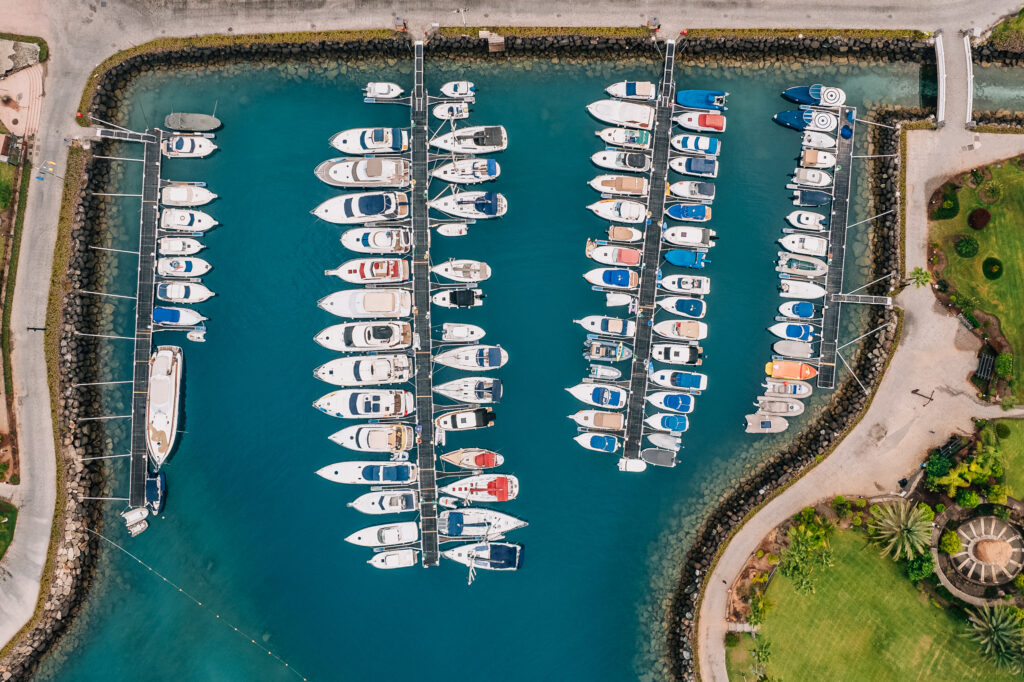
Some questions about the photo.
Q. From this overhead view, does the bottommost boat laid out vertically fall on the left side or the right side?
left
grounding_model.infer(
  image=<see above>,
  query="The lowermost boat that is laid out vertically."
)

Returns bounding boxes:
[144,471,165,516]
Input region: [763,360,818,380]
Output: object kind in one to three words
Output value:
boat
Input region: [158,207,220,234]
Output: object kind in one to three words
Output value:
boat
